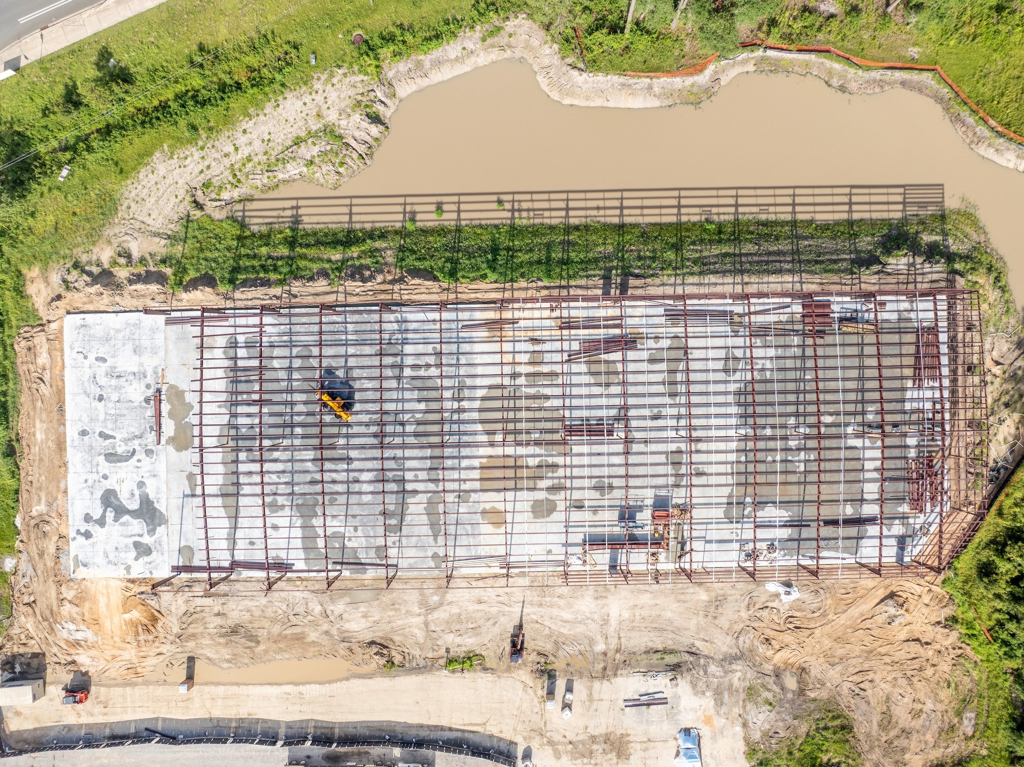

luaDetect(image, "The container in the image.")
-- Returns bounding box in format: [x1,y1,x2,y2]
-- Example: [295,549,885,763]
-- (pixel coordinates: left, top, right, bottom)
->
[0,677,45,704]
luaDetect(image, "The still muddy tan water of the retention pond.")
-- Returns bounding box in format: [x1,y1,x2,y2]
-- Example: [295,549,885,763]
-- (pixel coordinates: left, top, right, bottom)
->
[230,58,1024,312]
